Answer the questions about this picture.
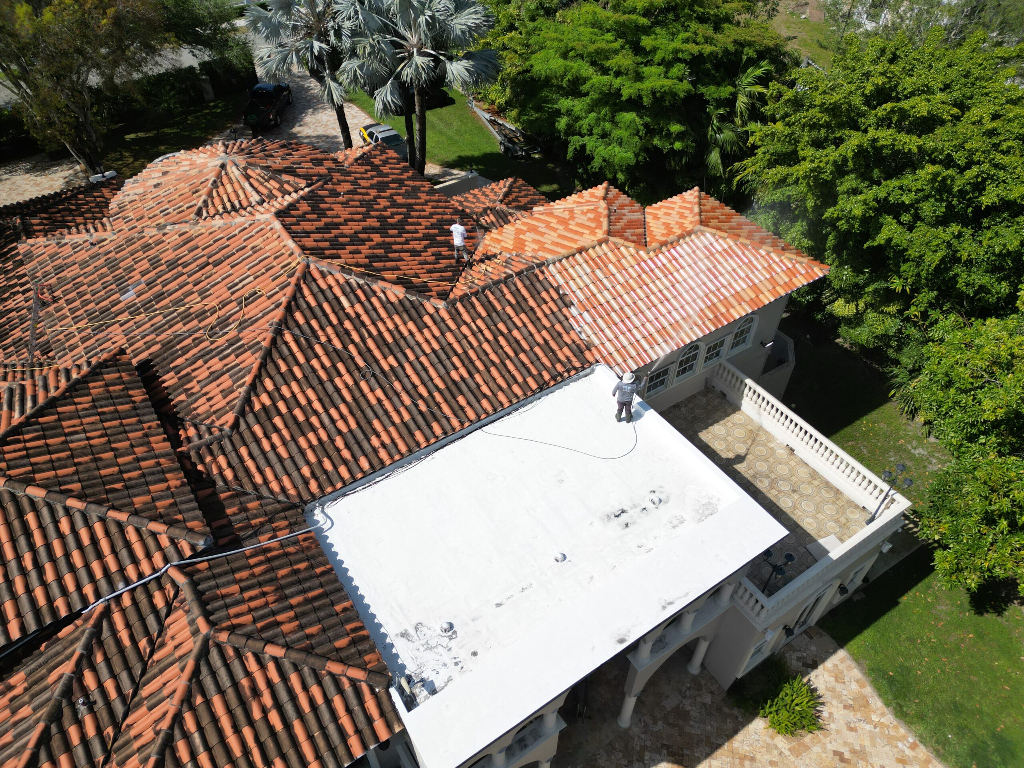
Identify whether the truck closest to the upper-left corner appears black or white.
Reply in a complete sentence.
In this view, the truck closest to the upper-left corner is black.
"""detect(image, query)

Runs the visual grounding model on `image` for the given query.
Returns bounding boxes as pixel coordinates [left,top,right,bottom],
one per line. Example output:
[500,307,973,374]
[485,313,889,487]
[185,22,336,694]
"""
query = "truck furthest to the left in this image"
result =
[246,83,298,127]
